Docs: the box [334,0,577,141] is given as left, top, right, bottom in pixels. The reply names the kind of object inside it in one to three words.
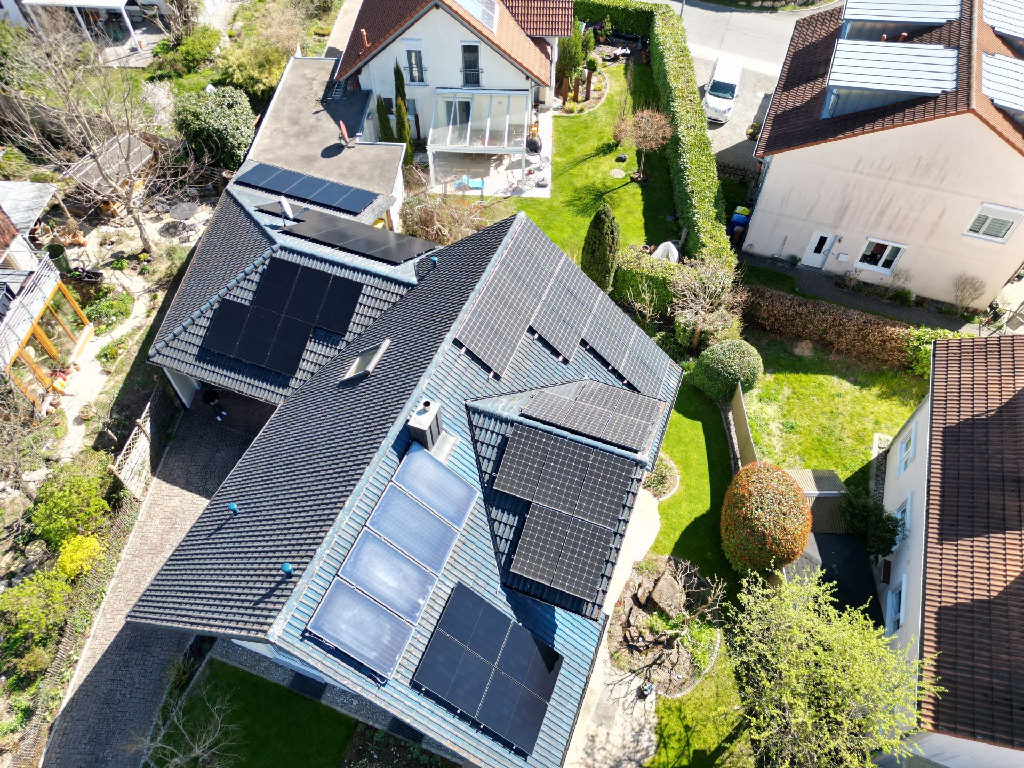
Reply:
house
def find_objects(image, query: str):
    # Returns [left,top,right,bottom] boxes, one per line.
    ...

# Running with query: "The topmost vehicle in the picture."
[705,54,745,122]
